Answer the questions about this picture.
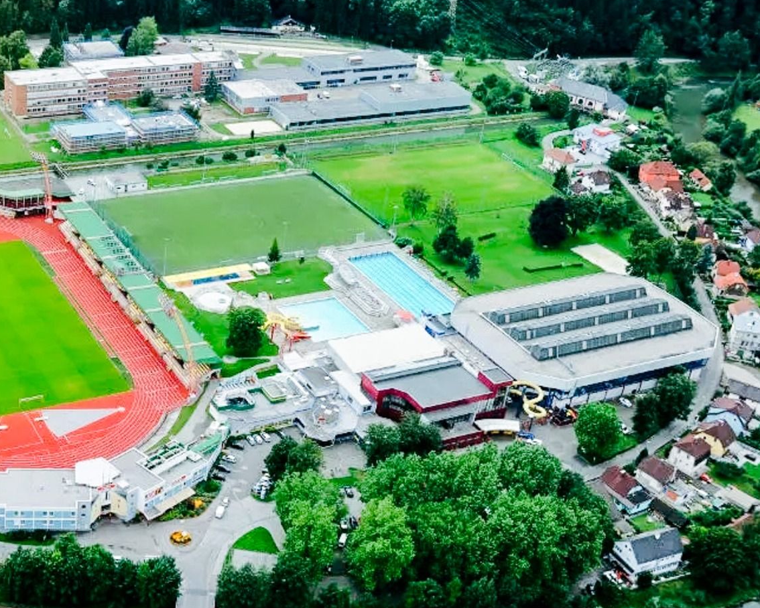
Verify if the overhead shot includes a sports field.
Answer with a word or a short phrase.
Yes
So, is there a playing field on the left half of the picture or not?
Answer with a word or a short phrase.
Yes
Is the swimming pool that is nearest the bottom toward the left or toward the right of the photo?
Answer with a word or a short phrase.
left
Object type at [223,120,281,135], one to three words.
sports court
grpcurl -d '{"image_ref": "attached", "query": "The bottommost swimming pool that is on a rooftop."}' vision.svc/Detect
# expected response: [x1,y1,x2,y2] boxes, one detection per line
[212,388,255,416]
